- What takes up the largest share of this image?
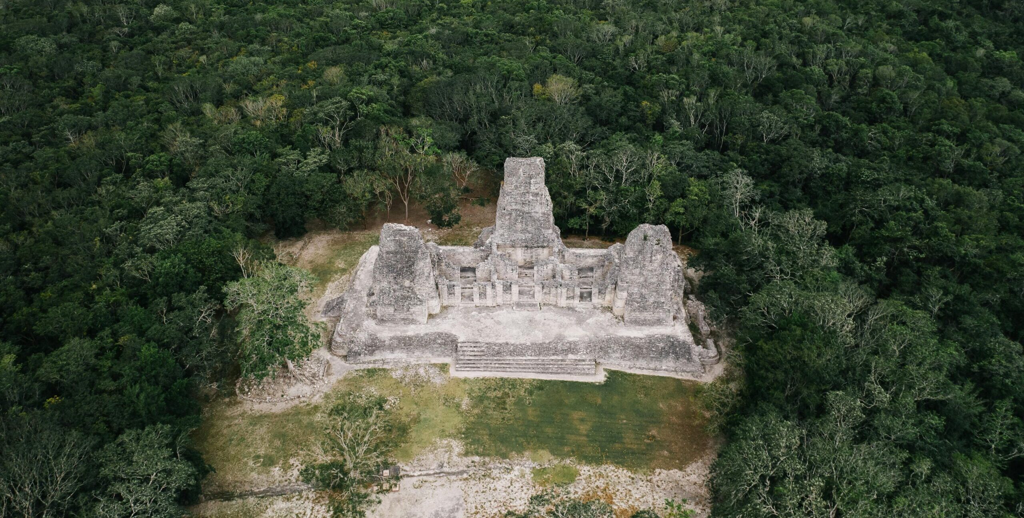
trees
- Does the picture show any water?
No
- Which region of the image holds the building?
center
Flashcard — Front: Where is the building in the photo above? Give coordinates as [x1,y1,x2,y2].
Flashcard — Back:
[322,159,705,379]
